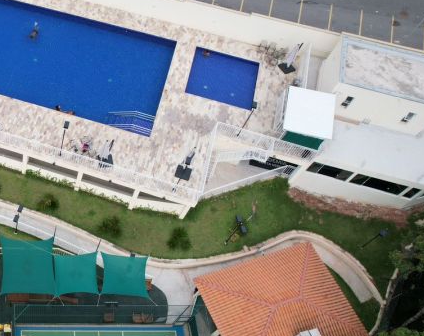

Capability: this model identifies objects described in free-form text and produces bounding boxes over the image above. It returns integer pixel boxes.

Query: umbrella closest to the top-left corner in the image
[98,135,118,164]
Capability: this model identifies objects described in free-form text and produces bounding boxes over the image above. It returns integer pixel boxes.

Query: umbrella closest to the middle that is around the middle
[177,149,201,178]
